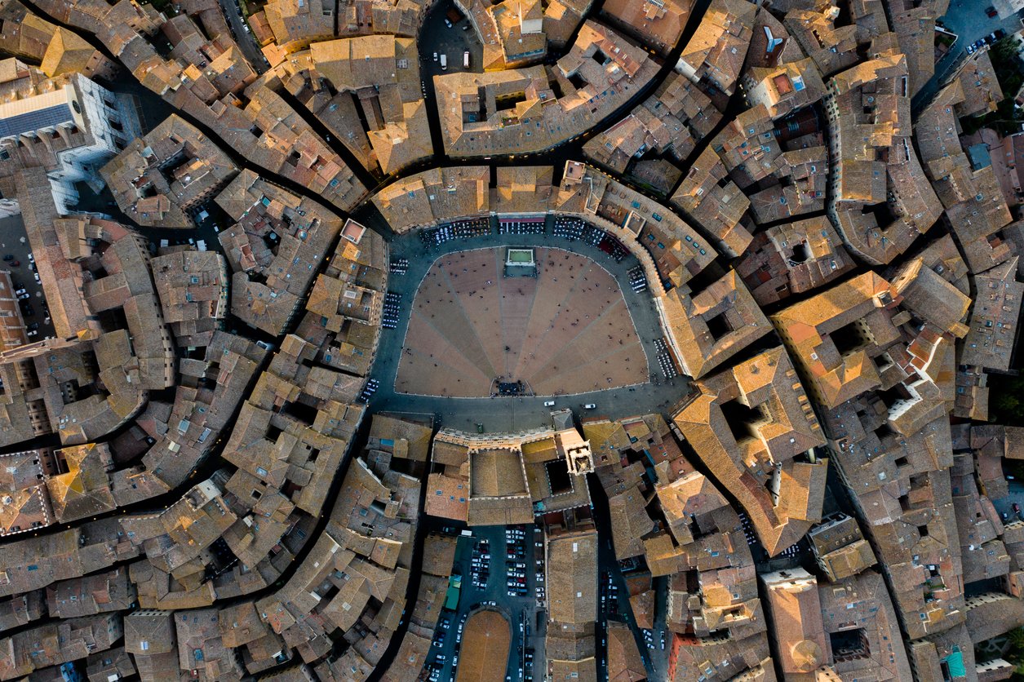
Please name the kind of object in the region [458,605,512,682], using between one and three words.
building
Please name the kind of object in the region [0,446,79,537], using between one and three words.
building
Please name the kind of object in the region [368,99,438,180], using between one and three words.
house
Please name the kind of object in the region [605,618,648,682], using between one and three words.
house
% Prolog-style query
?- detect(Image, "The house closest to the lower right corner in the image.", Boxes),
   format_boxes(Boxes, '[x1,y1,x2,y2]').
[975,653,1017,682]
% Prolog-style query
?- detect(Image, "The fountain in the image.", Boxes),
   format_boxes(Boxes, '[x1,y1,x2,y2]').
[505,244,536,279]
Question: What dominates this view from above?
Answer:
buildings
